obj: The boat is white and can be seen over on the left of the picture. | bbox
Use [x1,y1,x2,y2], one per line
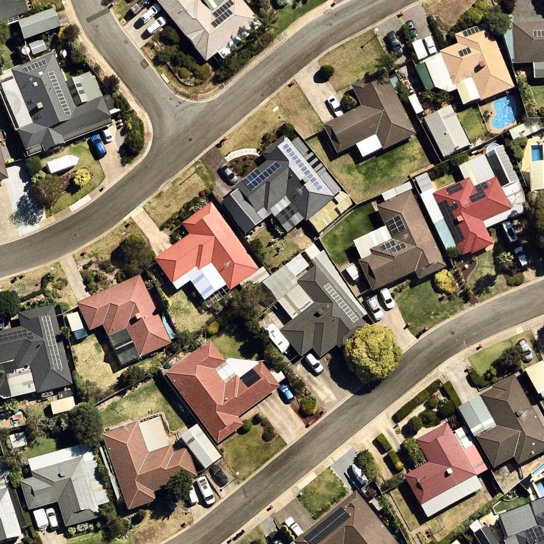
[44,156,78,176]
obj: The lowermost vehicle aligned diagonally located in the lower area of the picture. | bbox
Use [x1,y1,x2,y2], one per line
[284,515,303,539]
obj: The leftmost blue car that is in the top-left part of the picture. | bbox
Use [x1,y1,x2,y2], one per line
[91,134,104,158]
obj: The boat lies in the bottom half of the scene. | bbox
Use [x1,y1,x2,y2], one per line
[351,463,367,484]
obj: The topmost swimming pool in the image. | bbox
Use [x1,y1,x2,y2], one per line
[488,90,518,131]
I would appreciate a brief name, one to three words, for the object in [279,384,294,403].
car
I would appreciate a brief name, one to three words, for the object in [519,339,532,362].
vehicle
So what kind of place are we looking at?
residential area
